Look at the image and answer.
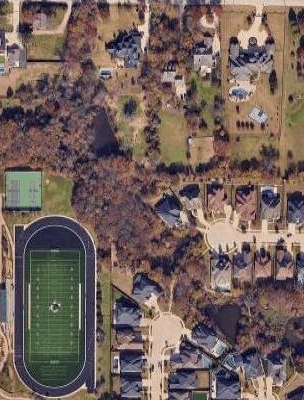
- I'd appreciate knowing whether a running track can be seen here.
Yes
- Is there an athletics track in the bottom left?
Yes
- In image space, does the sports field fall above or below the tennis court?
below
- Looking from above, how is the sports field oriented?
from top to bottom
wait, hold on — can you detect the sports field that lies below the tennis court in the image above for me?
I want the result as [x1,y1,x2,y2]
[24,251,85,386]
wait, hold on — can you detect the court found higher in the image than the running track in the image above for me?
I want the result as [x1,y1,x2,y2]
[5,172,42,211]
